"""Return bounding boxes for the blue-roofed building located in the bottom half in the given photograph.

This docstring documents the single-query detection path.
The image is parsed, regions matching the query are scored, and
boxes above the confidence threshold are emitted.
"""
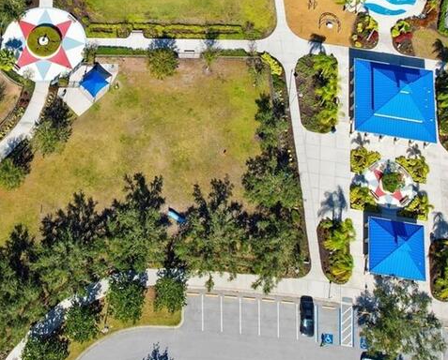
[366,217,426,281]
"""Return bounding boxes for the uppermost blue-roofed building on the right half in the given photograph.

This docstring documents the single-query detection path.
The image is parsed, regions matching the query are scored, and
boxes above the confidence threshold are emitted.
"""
[352,59,437,147]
